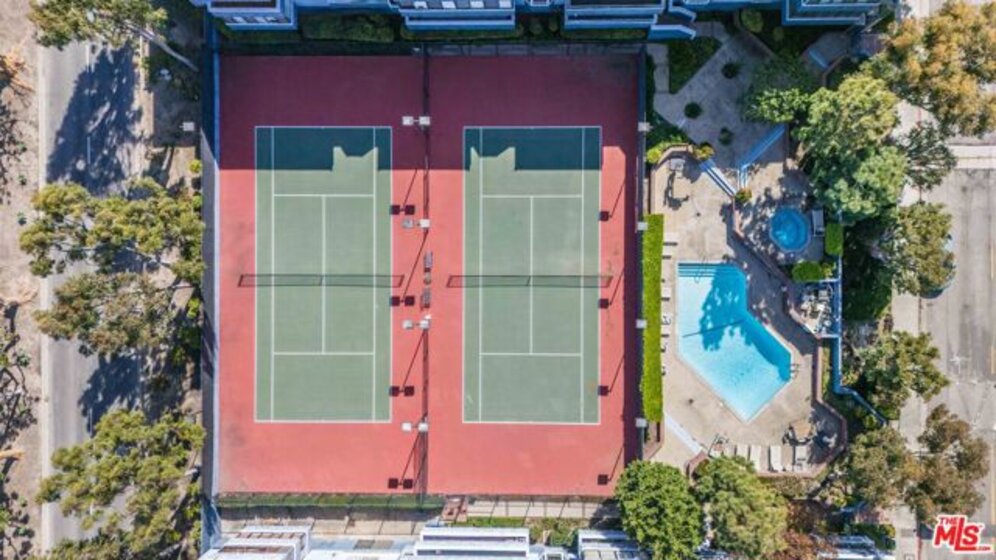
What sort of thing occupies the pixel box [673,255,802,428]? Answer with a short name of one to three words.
swimming pool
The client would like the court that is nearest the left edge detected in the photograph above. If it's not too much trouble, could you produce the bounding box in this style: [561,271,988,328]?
[220,54,425,493]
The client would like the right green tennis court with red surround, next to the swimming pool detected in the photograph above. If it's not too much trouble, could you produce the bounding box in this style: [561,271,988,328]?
[425,54,638,493]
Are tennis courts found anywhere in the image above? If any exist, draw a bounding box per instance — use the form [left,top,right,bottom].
[425,54,638,493]
[220,54,425,493]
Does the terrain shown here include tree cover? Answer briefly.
Yes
